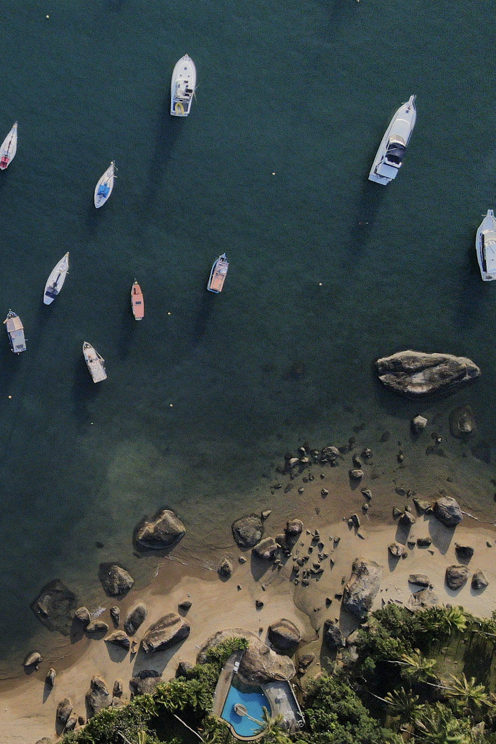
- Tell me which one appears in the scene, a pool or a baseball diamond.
pool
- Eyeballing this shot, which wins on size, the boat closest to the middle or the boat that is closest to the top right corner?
the boat that is closest to the top right corner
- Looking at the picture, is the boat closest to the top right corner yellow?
No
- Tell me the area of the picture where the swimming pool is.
bottom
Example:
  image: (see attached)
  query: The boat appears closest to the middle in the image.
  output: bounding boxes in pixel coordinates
[206,253,232,294]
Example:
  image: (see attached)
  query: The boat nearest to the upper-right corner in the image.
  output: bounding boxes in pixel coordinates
[362,92,418,191]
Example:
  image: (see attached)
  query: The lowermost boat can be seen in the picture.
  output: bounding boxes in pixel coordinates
[83,343,107,383]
